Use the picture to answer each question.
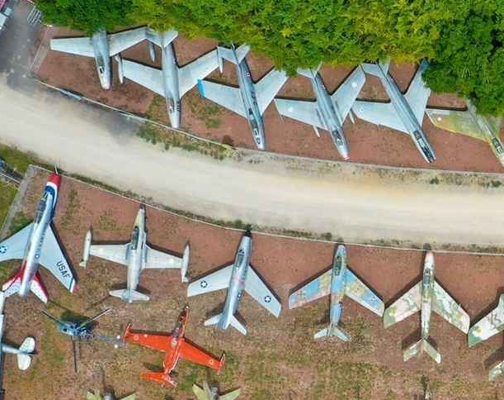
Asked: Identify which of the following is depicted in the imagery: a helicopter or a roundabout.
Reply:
helicopter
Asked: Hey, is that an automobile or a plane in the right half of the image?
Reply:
plane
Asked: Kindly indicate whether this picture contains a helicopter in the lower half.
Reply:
Yes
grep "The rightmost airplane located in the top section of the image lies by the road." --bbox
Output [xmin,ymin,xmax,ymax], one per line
[429,106,504,166]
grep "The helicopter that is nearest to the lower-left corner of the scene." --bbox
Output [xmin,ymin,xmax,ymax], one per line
[43,309,122,372]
